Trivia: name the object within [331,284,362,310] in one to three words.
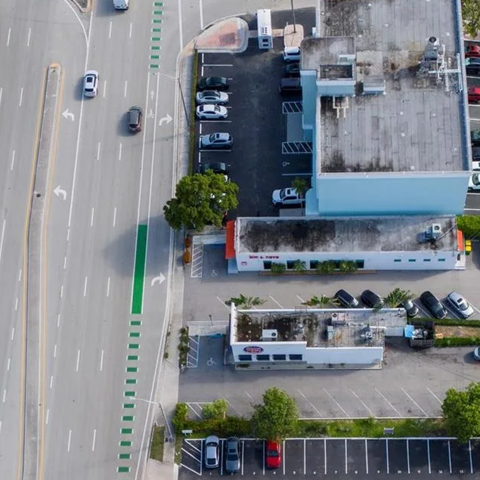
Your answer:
car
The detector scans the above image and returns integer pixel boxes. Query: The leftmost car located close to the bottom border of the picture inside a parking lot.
[203,435,220,469]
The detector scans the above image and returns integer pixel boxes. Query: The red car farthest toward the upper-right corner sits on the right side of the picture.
[462,44,480,58]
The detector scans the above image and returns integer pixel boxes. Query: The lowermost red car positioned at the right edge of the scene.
[466,87,480,100]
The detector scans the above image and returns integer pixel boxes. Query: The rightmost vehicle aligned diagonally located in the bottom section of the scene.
[446,290,476,318]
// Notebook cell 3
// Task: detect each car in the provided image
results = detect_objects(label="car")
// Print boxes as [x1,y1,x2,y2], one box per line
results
[201,132,232,148]
[471,148,480,161]
[469,174,480,190]
[469,129,480,145]
[197,91,227,104]
[331,284,362,310]
[265,436,280,469]
[128,106,142,132]
[471,162,480,176]
[84,71,98,96]
[446,290,476,318]
[419,290,449,318]
[357,285,388,310]
[284,63,301,77]
[466,87,480,100]
[473,348,480,362]
[398,298,424,318]
[462,44,480,58]
[463,58,480,73]
[203,435,220,469]
[199,162,229,176]
[199,76,228,90]
[283,46,301,61]
[196,104,227,118]
[278,77,303,93]
[225,437,240,472]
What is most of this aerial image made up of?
paved ground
